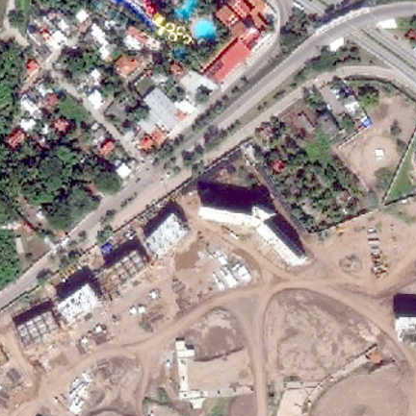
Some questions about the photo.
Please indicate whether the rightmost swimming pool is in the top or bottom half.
top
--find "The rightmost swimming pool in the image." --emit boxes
[193,18,215,41]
